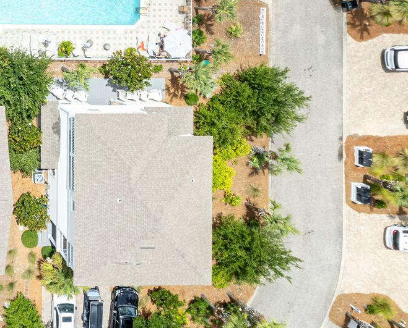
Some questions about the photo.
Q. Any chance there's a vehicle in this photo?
Yes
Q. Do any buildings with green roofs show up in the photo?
No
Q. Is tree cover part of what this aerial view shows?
Yes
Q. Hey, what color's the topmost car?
white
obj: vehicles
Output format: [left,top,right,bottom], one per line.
[81,292,103,328]
[50,286,79,328]
[381,46,408,68]
[107,286,138,328]
[385,223,408,248]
